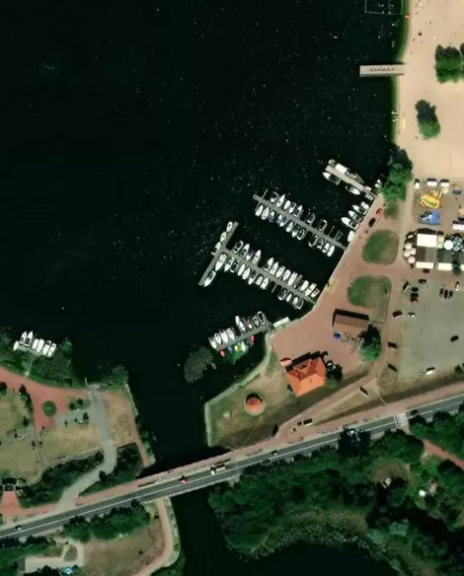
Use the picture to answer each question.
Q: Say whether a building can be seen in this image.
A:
Yes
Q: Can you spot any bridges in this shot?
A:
Yes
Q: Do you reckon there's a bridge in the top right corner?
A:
No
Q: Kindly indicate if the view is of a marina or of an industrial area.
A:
marina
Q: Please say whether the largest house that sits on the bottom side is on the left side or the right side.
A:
right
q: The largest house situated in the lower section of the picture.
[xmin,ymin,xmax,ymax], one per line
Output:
[287,356,326,397]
